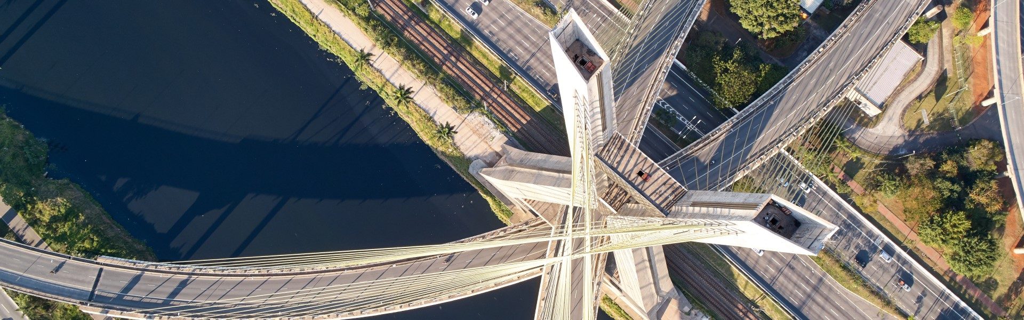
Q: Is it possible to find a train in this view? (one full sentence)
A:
No, no train is visible in the view.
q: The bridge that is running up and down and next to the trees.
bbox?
[978,0,1024,255]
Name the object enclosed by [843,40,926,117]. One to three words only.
shed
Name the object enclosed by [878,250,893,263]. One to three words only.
vehicle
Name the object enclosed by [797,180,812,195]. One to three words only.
vehicle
